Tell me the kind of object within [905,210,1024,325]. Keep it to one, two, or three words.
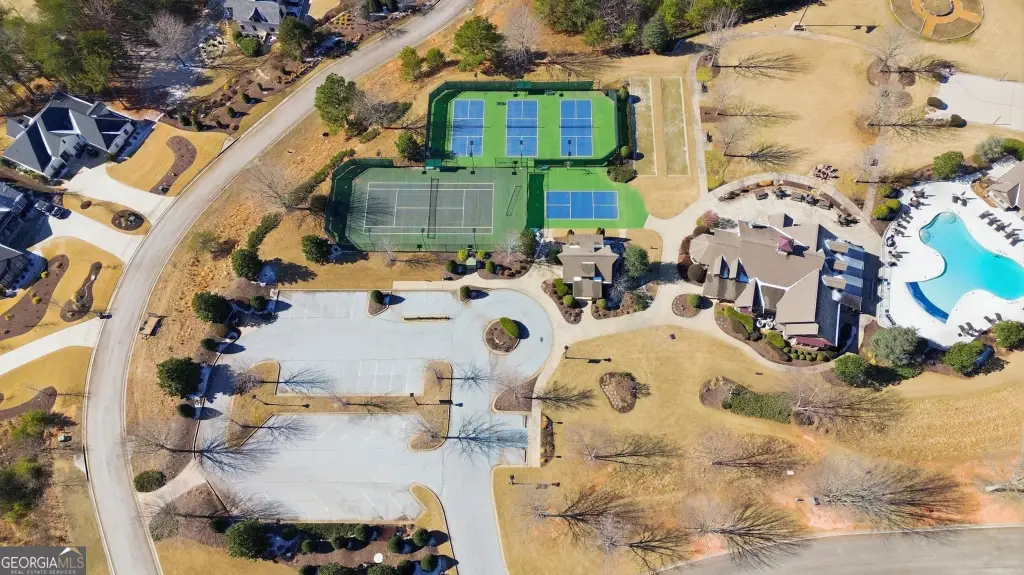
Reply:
swimming pool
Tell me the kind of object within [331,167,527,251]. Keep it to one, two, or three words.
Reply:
tennis court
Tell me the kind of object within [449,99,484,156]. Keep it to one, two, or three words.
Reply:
sports court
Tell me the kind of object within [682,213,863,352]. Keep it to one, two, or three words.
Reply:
building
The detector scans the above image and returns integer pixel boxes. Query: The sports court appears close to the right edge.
[925,72,1024,131]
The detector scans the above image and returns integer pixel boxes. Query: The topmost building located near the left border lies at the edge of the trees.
[0,92,144,193]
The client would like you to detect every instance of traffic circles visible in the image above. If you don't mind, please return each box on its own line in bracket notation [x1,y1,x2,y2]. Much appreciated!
[481,316,523,355]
